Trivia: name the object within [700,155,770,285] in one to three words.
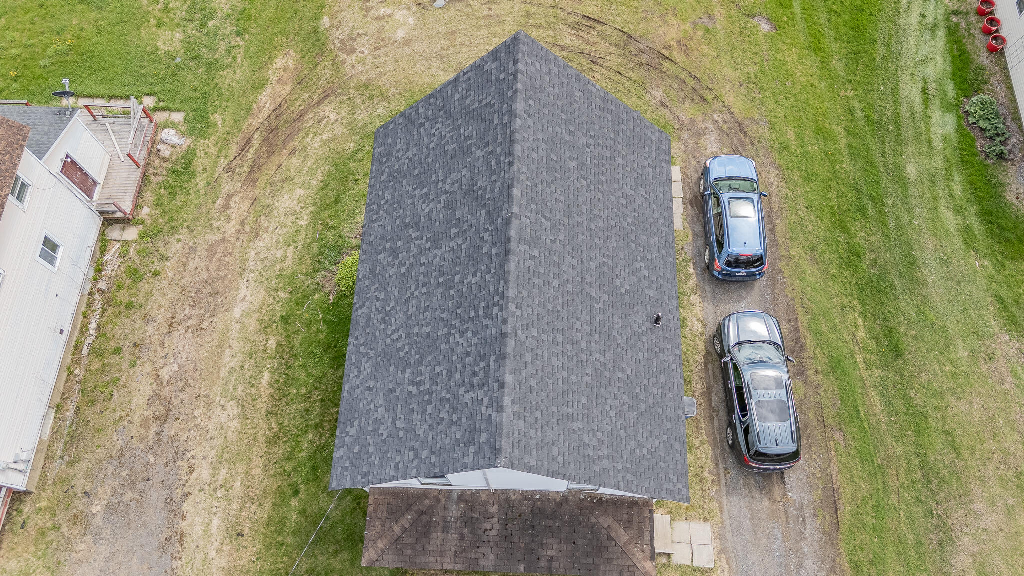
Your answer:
car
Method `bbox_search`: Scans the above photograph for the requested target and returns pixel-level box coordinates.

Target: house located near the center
[329,29,691,576]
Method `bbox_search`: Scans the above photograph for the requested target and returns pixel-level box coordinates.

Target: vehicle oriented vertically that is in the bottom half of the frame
[714,310,805,475]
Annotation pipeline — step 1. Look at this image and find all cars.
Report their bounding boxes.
[700,155,770,285]
[714,310,805,475]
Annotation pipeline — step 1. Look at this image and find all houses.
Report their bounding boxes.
[990,0,1024,136]
[0,109,120,490]
[329,29,691,576]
